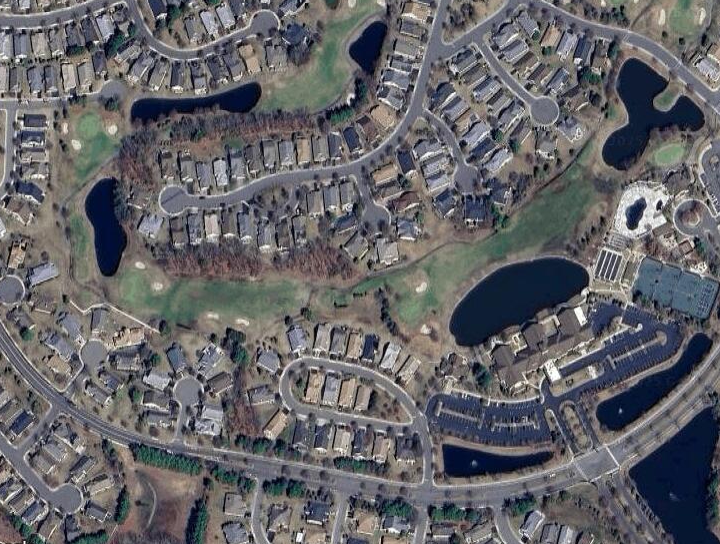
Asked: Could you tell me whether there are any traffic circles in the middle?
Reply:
No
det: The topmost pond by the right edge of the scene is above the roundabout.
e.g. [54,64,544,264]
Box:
[603,59,704,171]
